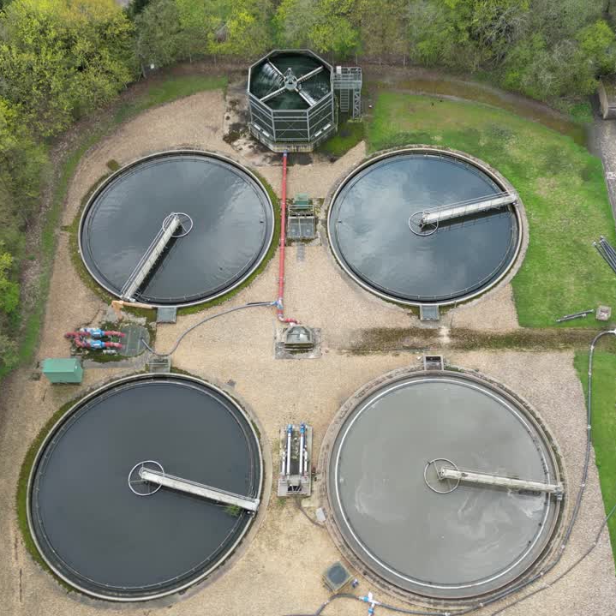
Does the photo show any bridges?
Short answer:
Yes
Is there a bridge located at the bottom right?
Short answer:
Yes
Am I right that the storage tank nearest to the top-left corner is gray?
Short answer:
Yes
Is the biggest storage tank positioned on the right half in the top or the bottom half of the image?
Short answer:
bottom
